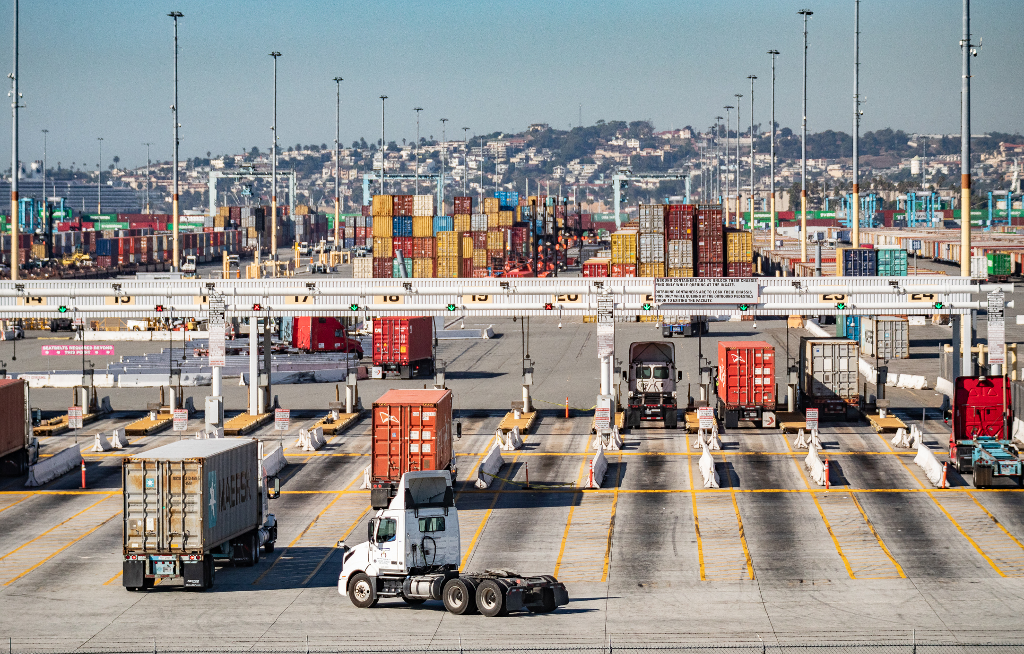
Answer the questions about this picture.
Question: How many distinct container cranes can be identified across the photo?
three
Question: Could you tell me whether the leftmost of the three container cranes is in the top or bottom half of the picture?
top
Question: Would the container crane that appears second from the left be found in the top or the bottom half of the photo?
top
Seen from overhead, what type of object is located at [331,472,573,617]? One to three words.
truck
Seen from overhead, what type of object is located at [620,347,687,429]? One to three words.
truck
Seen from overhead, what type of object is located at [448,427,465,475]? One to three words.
vehicle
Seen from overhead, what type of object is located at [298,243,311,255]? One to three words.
vehicle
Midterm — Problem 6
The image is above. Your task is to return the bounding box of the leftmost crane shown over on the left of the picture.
[209,163,297,225]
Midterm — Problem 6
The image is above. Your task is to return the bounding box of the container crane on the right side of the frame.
[613,167,690,234]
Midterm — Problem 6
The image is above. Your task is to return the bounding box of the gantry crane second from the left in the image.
[364,167,445,216]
